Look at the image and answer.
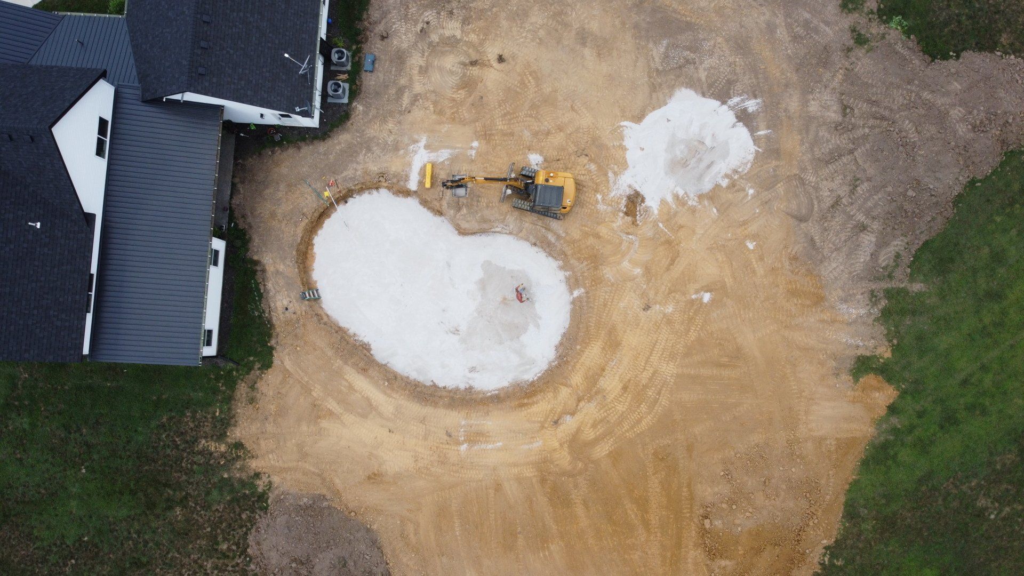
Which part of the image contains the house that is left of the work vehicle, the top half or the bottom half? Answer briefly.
top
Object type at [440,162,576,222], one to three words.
work vehicle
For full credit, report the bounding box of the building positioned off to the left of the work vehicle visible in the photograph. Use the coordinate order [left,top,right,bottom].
[0,0,333,366]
